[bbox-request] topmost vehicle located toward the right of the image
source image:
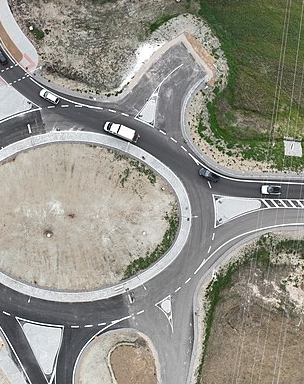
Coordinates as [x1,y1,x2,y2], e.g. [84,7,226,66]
[198,167,220,181]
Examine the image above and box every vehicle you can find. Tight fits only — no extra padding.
[0,49,7,66]
[105,121,138,142]
[260,185,282,194]
[39,89,60,105]
[198,167,220,181]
